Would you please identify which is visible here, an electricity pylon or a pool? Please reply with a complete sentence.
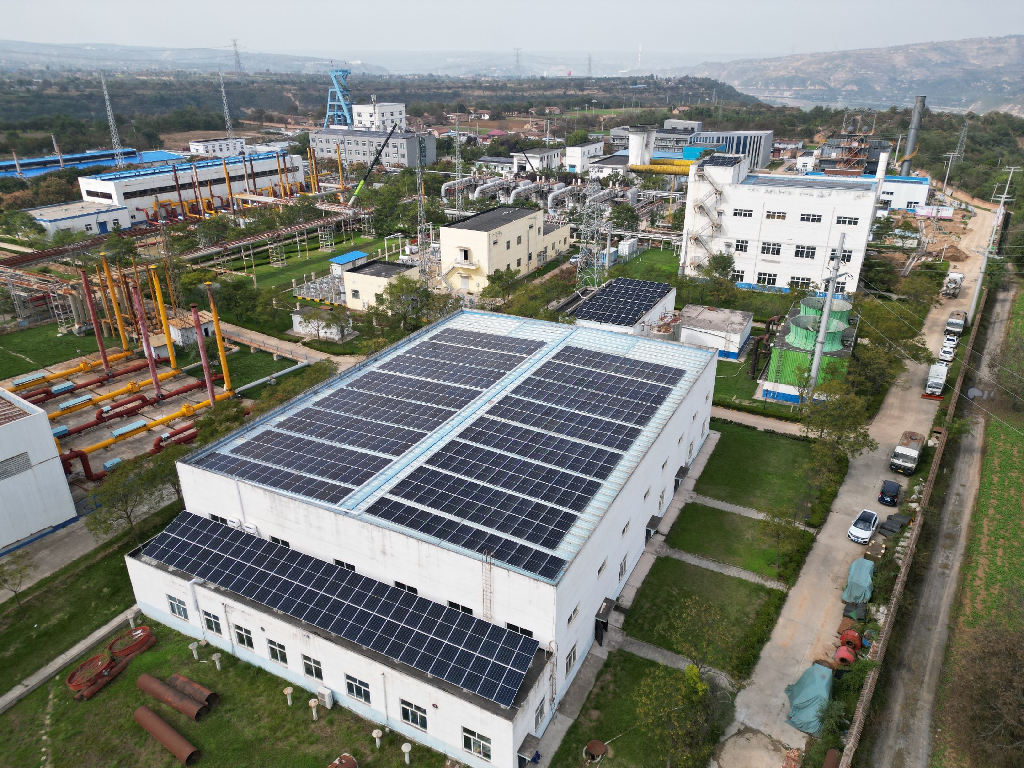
The image shows an electricity pylon.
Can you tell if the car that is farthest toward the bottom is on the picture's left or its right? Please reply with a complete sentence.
The car that is farthest toward the bottom is on the right side of the image.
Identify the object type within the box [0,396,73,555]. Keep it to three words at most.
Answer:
building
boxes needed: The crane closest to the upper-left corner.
[340,122,399,214]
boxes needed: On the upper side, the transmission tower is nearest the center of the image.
[567,165,612,299]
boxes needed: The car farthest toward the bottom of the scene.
[852,505,877,539]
